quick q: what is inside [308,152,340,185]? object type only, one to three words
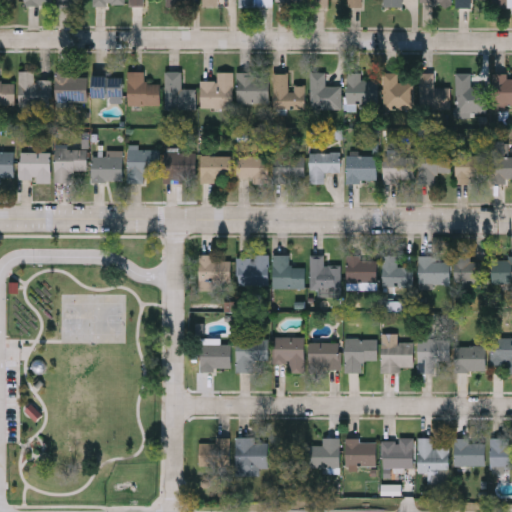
house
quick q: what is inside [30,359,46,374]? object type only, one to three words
gazebo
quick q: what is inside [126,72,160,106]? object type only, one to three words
house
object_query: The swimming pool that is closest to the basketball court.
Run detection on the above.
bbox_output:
[205,318,231,338]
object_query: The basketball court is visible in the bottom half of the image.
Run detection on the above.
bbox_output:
[62,294,126,344]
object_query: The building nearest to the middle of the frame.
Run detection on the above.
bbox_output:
[236,256,269,286]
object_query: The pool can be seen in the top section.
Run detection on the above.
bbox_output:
[99,104,124,122]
